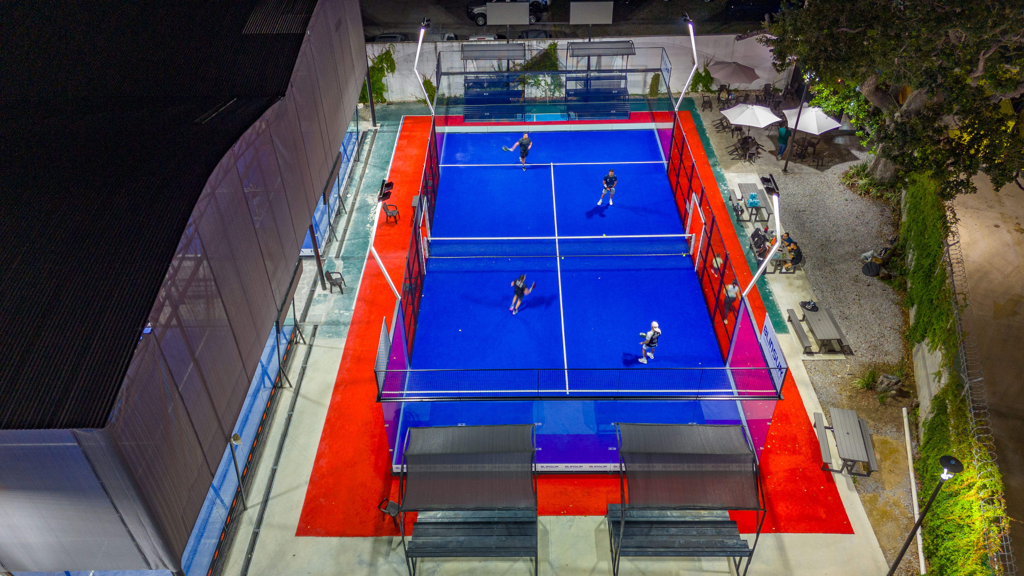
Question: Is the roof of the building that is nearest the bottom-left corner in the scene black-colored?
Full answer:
Yes, black is the color of the roof of the building that is nearest the bottom-left corner.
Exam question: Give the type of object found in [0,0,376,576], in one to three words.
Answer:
building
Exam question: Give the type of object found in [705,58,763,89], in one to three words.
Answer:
umbrella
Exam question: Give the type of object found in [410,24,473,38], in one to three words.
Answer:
vehicle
